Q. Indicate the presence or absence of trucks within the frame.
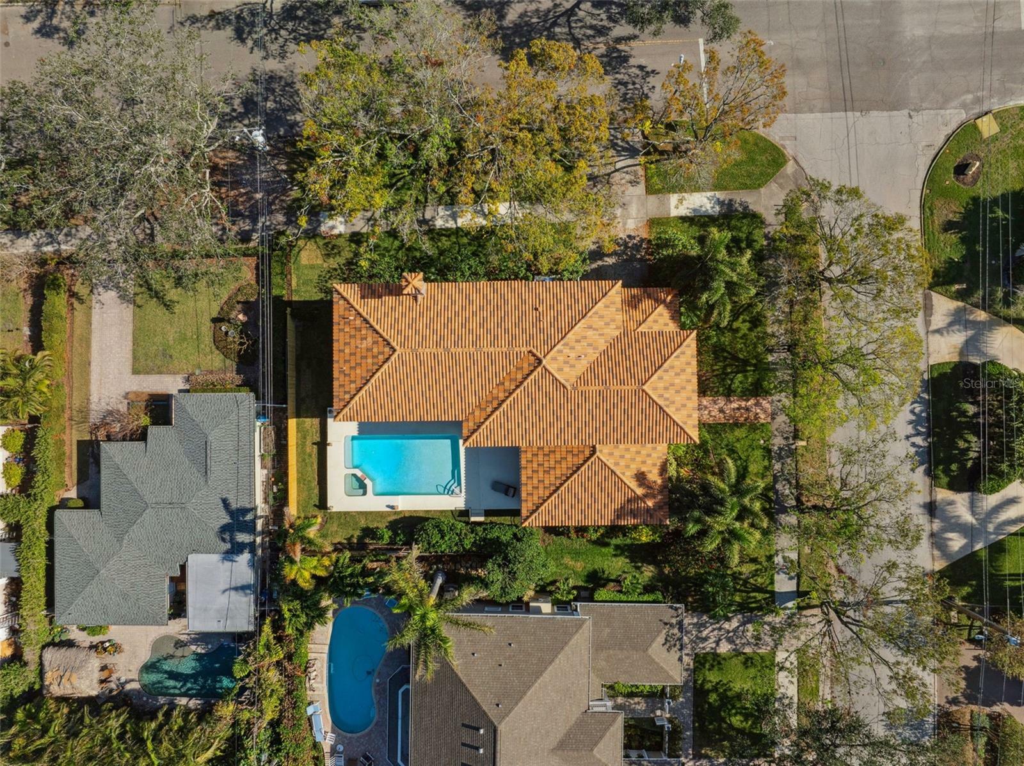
No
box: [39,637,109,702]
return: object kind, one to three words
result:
shed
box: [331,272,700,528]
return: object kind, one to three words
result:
house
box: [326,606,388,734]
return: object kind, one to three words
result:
swimming pool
